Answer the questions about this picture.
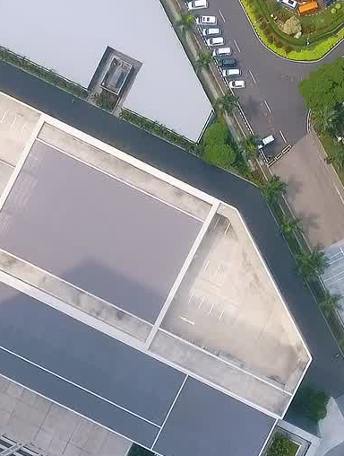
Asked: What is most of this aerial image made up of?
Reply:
buildings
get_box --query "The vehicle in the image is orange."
[298,0,319,16]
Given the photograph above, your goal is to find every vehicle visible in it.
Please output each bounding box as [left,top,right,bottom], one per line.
[224,68,241,77]
[204,27,221,37]
[198,15,216,26]
[214,47,232,57]
[220,57,238,67]
[230,81,245,90]
[189,0,207,10]
[278,0,298,10]
[208,37,224,47]
[259,134,276,148]
[298,0,319,16]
